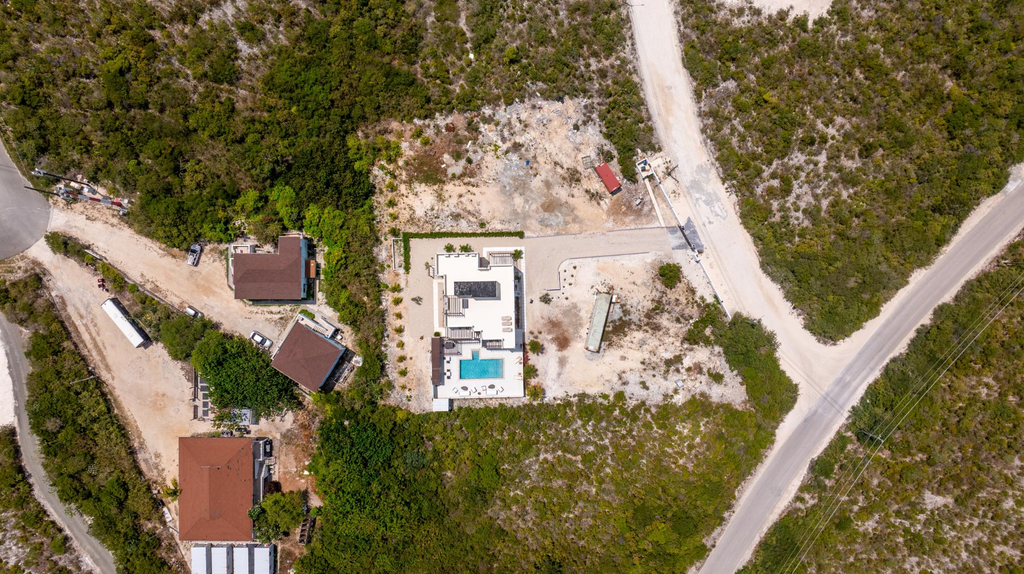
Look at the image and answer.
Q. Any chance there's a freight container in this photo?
Yes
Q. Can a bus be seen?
Yes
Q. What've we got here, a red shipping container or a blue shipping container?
red shipping container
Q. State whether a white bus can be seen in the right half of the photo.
No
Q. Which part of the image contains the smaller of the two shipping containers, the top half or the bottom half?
top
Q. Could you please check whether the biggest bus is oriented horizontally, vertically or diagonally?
diagonally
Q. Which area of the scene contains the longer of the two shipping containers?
center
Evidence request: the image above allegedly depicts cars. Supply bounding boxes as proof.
[185,244,199,266]
[248,330,271,349]
[181,305,201,319]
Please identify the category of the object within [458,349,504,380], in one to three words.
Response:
swimming pool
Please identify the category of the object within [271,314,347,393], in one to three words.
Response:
house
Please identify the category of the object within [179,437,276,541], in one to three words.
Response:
house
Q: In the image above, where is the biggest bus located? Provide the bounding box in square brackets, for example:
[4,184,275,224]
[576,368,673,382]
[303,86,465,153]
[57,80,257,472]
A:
[95,296,144,347]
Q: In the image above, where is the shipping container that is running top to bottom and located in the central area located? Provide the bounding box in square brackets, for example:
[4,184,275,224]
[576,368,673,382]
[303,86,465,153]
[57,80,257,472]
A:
[583,292,612,352]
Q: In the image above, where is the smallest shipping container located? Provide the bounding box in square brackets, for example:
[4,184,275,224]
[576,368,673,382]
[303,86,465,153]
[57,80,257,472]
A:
[593,162,621,195]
